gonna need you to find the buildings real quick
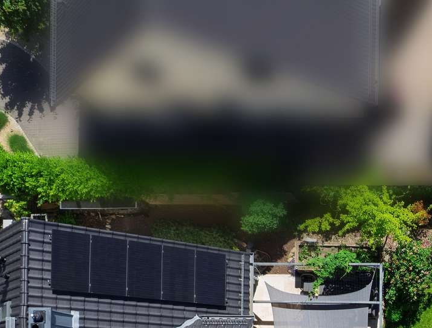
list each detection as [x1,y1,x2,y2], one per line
[0,215,260,328]
[51,0,380,136]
